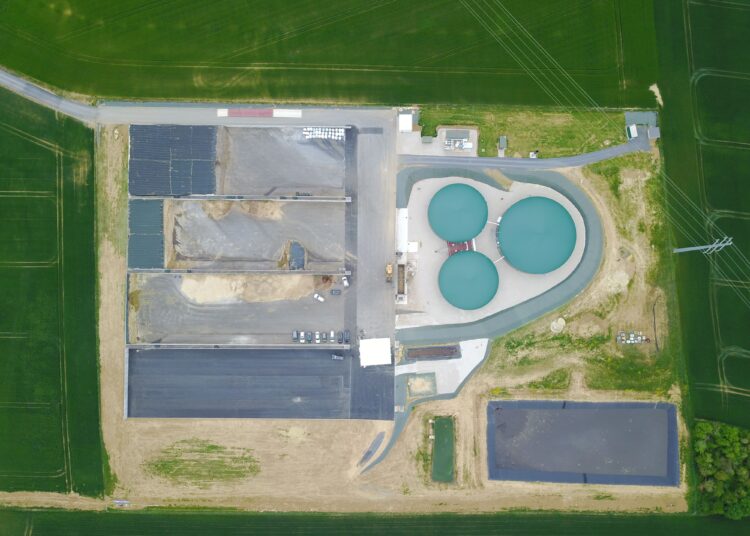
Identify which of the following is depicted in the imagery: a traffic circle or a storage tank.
storage tank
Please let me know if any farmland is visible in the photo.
Yes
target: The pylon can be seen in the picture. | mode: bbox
[671,237,735,254]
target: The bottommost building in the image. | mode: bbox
[358,337,392,368]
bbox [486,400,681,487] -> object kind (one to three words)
pond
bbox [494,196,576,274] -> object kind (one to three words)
storage tank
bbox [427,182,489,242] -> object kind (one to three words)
storage tank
